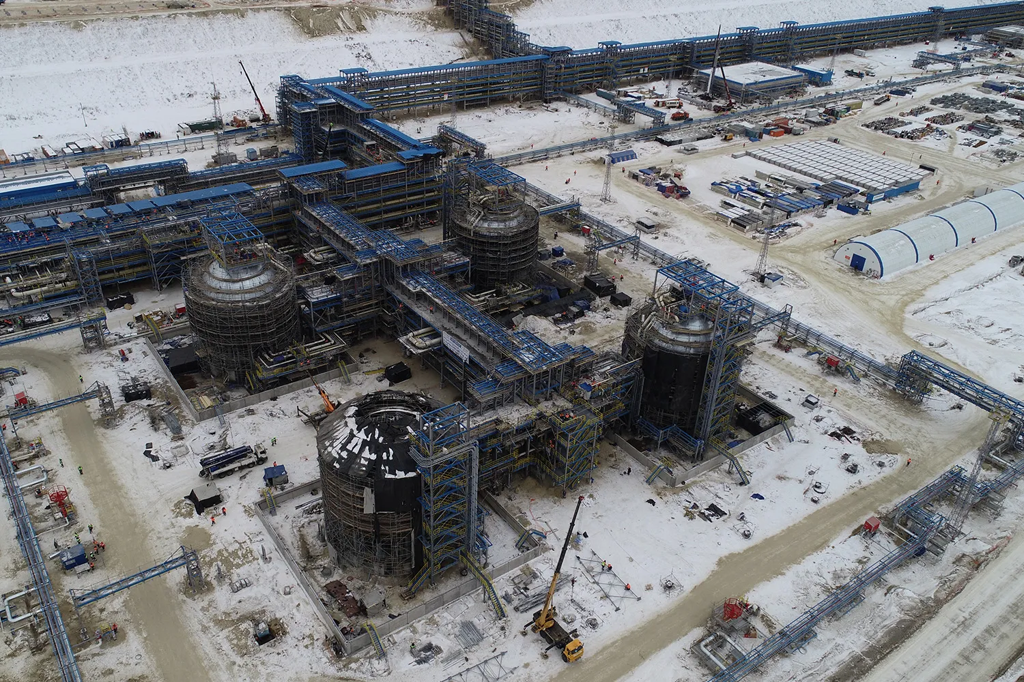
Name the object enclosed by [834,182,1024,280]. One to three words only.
hangar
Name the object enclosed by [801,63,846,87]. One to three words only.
building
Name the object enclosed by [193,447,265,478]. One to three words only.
truck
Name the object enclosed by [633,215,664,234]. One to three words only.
shed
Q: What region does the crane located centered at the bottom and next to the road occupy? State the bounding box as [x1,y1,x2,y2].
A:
[520,495,590,669]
